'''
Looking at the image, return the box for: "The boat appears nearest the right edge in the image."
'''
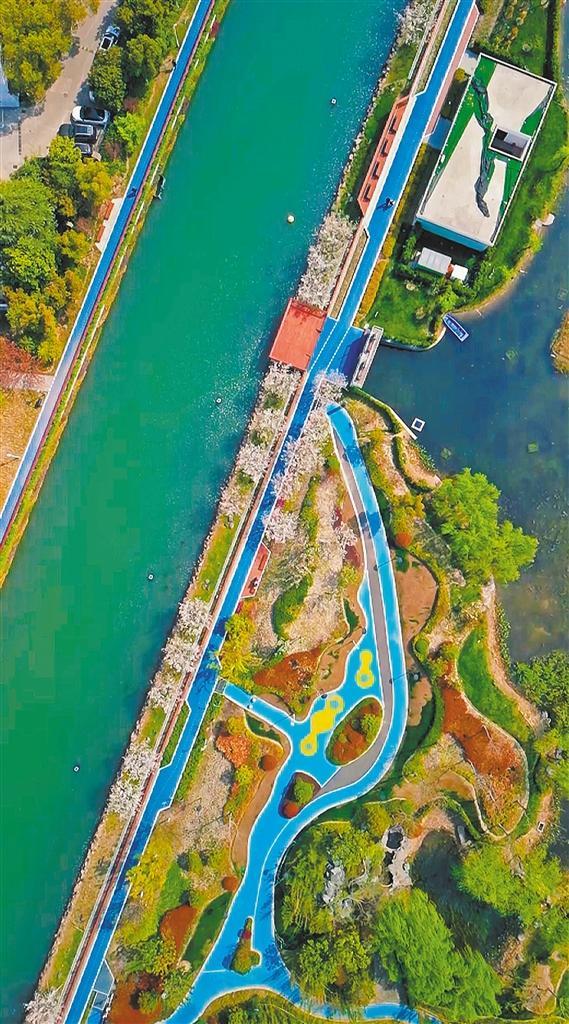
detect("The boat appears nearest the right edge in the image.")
[446,316,469,342]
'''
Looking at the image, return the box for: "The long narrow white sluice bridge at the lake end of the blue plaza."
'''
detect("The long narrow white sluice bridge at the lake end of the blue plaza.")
[350,328,382,390]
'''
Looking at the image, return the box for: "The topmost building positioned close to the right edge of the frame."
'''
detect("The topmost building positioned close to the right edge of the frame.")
[413,53,557,254]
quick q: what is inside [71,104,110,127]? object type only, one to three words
car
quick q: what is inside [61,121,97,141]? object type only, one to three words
car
